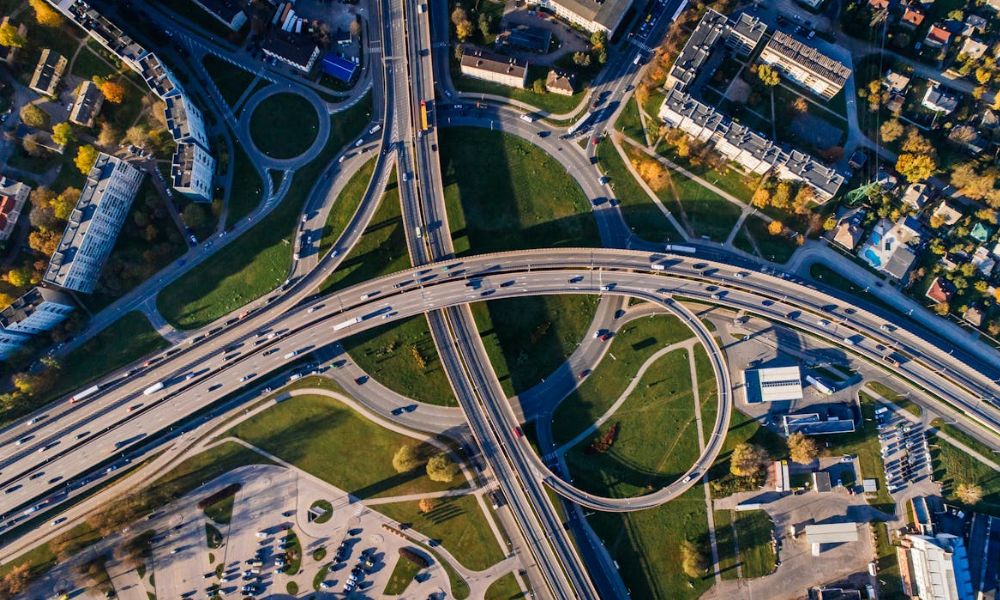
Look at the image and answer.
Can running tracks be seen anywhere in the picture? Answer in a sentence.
No, there appears to be no running track in this shot.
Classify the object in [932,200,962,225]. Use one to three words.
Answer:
house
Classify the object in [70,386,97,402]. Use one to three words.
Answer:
vehicle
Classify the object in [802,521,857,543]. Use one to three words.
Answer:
shed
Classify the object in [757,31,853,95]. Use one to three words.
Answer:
building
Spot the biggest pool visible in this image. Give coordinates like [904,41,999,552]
[866,246,881,266]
